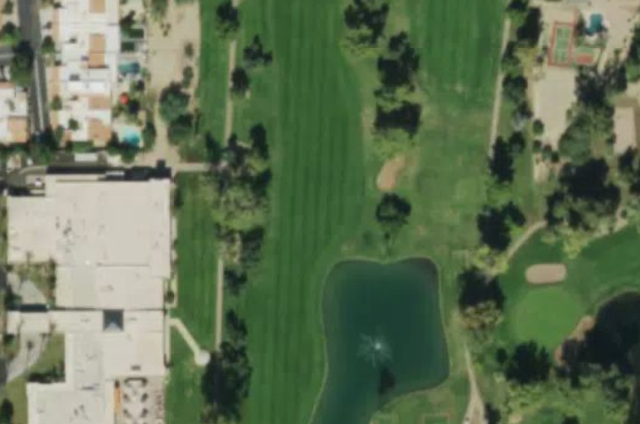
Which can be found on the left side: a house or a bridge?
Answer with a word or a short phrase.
house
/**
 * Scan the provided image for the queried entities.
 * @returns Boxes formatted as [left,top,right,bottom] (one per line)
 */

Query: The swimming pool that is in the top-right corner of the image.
[585,13,604,35]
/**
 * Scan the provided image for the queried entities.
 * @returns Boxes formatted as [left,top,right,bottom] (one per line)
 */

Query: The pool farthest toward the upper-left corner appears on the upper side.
[118,61,139,74]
